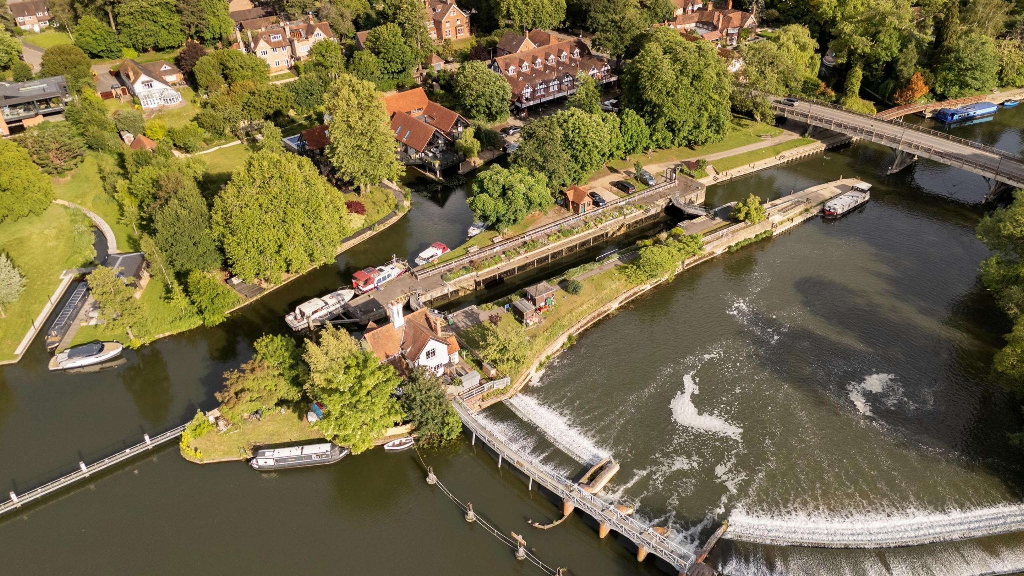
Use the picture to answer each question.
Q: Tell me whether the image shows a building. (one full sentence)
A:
Yes, a building can be made out from above.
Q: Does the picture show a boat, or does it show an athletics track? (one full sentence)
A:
Visible in the photo is a boat.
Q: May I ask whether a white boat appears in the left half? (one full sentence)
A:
Yes, a white boat can be seen in the left half.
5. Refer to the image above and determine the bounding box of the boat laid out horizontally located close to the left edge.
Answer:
[45,341,120,372]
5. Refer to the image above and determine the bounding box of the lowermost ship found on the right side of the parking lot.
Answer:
[822,180,879,217]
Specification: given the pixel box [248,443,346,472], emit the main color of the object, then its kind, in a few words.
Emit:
white boat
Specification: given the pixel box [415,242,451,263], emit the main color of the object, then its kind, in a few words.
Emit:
white boat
